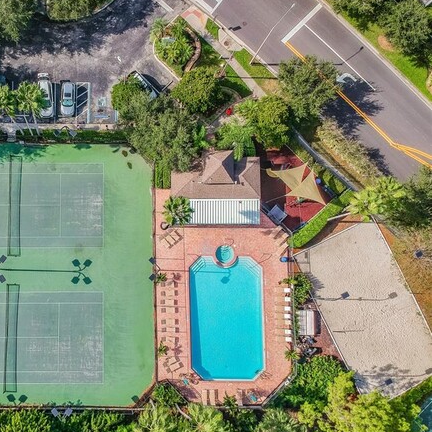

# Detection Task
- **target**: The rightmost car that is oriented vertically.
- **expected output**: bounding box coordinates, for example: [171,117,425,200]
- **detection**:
[59,82,76,119]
